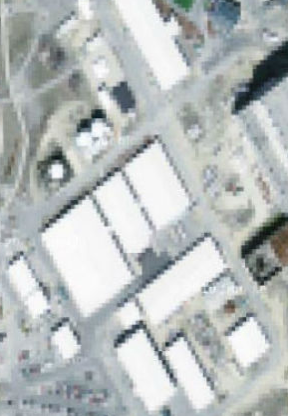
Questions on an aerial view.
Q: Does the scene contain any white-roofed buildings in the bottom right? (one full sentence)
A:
Yes, a white-roofed building shows up in the bottom right.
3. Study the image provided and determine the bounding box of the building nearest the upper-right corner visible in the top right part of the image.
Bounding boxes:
[210,0,239,30]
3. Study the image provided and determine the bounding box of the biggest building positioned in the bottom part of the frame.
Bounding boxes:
[40,196,135,319]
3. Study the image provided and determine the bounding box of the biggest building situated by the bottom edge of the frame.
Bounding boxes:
[116,330,177,412]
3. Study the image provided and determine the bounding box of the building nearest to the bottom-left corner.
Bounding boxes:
[52,323,80,360]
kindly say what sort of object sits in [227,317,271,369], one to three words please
building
